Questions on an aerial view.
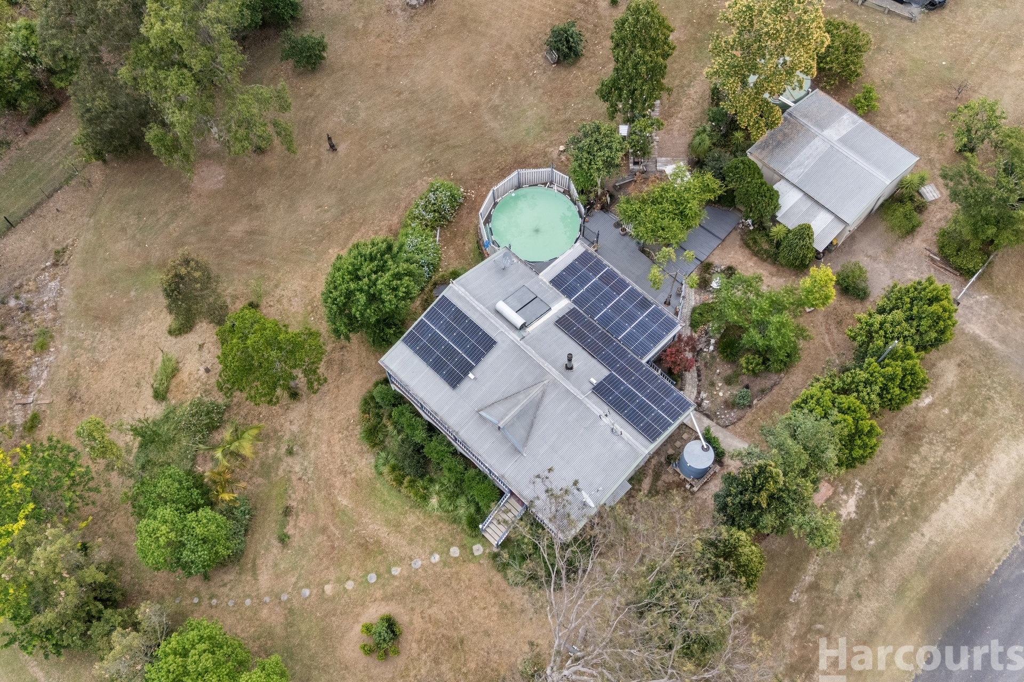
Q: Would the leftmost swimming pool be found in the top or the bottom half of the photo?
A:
top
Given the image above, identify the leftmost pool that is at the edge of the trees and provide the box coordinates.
[489,185,582,269]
